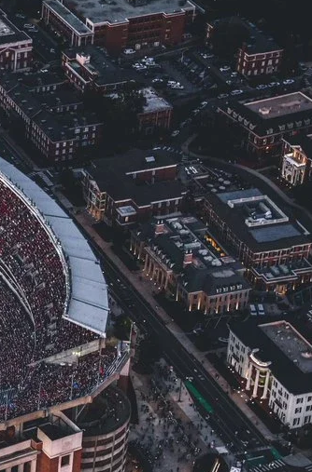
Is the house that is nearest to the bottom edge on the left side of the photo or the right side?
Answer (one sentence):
The house that is nearest to the bottom edge appears in the right half of the scene.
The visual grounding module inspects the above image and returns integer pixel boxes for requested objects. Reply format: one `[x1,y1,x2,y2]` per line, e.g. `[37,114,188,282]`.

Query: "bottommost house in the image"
[224,316,312,428]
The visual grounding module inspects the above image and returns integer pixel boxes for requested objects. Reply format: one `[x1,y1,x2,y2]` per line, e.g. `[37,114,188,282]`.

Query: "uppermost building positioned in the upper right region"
[205,16,284,74]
